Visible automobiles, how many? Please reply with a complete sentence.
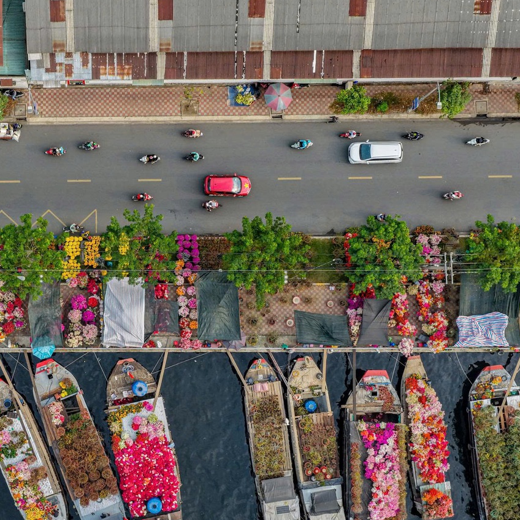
In total, there are 2 automobiles in the scene.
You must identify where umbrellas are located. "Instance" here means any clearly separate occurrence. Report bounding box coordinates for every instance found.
[222,332,244,353]
[264,84,292,113]
[31,339,55,363]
